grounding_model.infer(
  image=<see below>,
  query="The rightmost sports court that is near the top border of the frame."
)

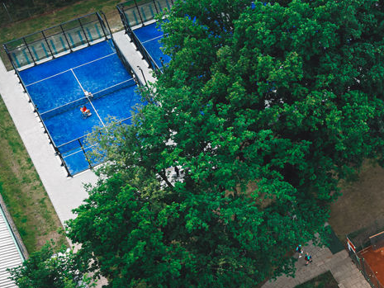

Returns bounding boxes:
[123,0,214,101]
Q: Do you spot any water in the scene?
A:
No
